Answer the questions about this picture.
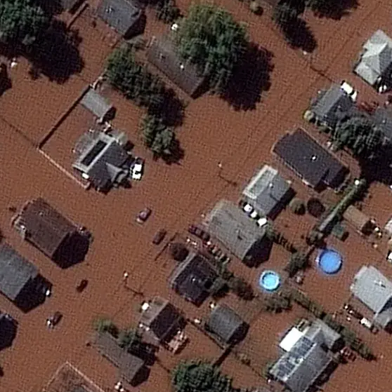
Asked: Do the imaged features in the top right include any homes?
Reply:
Yes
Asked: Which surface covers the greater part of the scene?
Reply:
water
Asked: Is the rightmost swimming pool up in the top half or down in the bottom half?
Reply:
bottom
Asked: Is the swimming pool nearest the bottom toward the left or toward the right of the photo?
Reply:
right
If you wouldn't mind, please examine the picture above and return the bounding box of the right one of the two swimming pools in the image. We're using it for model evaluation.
[317,250,344,273]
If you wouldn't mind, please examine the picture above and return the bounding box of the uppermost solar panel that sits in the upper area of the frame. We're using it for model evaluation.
[80,142,107,168]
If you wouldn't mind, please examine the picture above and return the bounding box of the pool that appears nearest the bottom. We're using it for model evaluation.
[259,270,282,291]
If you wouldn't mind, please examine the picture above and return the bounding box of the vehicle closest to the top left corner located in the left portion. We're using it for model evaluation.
[130,160,143,181]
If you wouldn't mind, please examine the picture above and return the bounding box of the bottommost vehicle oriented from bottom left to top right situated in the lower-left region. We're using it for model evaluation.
[46,309,65,328]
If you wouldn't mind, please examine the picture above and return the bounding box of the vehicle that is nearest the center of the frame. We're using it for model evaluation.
[189,226,209,242]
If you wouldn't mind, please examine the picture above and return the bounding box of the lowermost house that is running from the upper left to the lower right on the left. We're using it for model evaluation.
[89,332,147,381]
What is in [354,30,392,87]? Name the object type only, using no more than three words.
house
